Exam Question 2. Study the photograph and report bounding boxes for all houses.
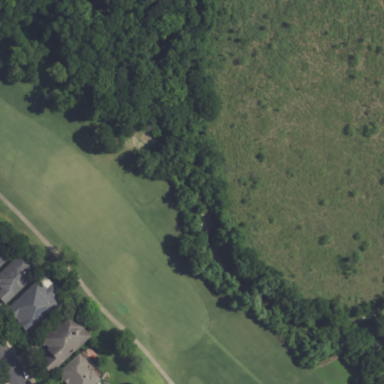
[12,284,57,328]
[62,356,100,384]
[0,261,35,304]
[48,318,89,370]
